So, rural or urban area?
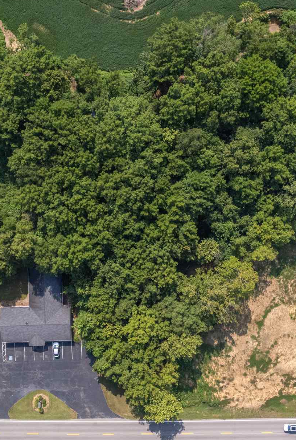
rural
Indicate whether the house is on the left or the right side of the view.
left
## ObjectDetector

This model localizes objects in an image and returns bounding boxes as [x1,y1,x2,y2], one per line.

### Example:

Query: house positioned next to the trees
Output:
[0,257,74,346]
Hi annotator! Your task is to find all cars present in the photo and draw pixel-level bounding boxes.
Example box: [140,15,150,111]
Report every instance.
[284,424,296,432]
[53,342,61,358]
